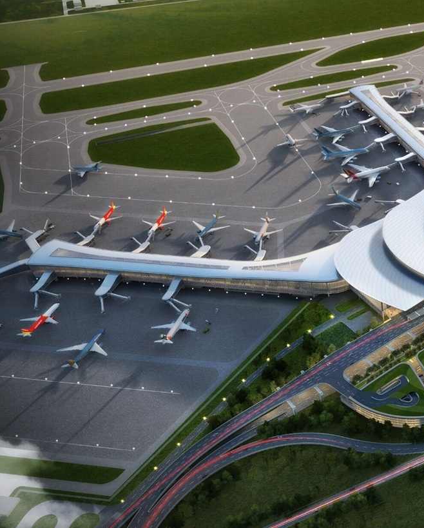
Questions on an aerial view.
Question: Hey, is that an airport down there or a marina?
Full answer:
What you see here is an airport.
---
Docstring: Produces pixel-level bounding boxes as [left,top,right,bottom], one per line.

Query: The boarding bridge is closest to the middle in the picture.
[185,237,209,258]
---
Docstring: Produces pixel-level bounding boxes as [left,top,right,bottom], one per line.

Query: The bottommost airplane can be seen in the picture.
[61,331,106,366]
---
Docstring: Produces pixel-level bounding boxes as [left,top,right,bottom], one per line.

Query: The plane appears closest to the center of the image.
[196,213,227,237]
